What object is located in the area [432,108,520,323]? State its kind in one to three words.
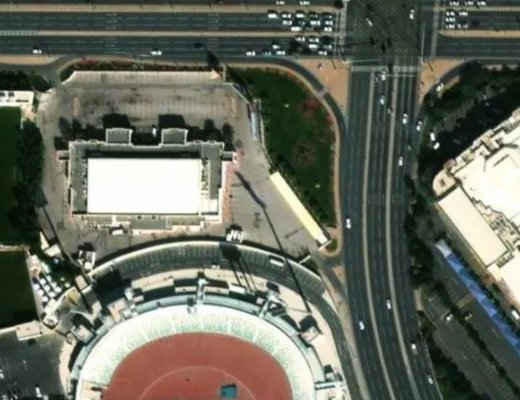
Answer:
building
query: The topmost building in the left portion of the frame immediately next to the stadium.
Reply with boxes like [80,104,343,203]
[58,127,237,229]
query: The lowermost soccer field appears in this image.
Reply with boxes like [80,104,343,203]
[0,251,37,329]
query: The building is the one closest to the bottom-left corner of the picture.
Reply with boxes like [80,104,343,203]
[16,320,41,339]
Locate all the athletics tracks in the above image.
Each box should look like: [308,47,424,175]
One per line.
[103,332,292,400]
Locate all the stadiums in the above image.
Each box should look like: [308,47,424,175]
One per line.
[68,276,349,400]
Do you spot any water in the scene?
No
